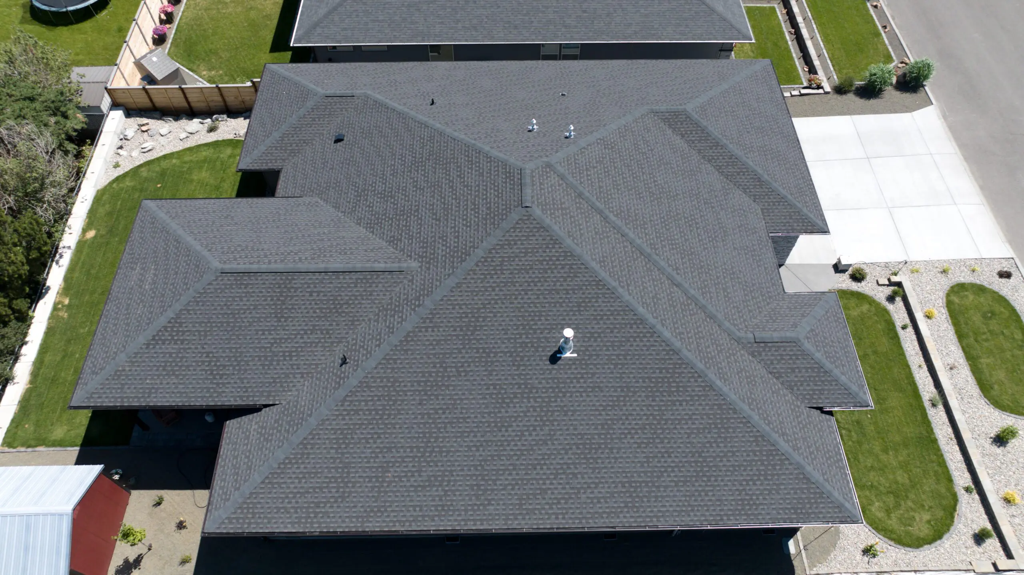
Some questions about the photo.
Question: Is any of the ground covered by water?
No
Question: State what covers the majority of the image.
buildings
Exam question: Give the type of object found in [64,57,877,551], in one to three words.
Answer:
house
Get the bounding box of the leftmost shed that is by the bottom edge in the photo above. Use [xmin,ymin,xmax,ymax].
[0,465,132,575]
